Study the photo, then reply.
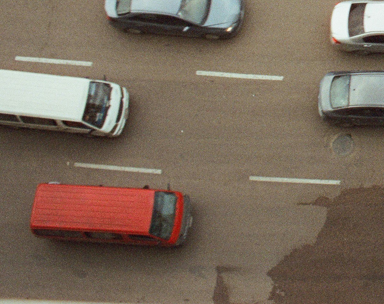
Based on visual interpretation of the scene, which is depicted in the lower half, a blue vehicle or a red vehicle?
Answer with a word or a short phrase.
red vehicle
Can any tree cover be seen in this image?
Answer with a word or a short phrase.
No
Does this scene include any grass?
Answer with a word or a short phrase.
No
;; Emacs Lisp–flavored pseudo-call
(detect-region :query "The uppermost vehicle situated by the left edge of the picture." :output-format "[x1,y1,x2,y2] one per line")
[0,71,129,138]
